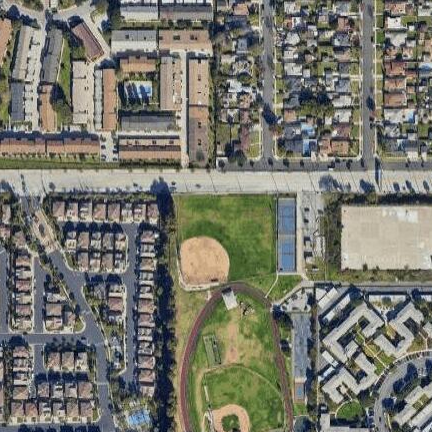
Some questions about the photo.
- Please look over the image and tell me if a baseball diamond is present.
Yes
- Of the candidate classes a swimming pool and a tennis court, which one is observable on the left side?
swimming pool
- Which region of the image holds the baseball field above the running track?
center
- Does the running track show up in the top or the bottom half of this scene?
bottom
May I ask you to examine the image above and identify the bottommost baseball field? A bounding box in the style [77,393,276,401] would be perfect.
[198,364,284,432]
